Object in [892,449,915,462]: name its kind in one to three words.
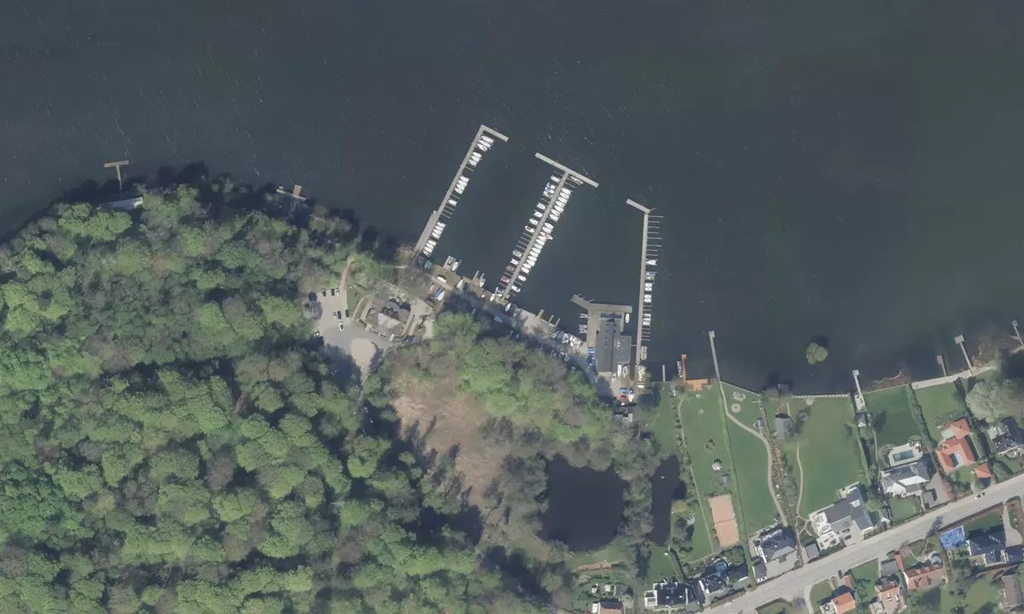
swimming pool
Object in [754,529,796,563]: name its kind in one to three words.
house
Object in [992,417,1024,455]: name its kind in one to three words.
house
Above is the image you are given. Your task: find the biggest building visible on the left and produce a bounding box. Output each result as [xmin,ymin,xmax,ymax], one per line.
[365,302,410,340]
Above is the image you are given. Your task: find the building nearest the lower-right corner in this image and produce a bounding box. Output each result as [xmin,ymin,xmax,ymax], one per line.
[1001,574,1023,606]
